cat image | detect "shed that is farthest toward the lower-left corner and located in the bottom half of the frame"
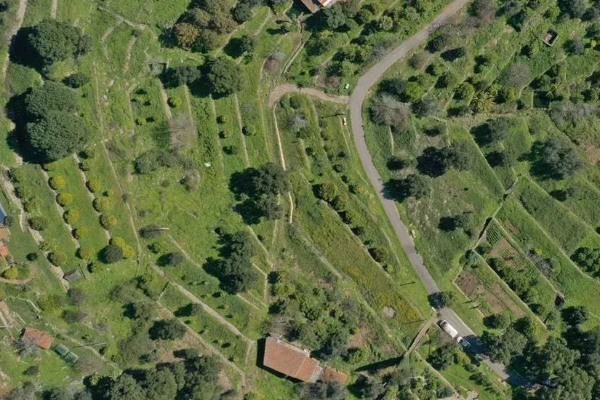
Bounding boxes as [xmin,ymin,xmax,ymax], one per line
[22,326,59,350]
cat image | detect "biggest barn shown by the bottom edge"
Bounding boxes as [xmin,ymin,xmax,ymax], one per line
[264,334,325,382]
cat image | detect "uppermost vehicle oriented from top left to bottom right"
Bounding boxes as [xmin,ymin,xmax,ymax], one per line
[439,316,461,338]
